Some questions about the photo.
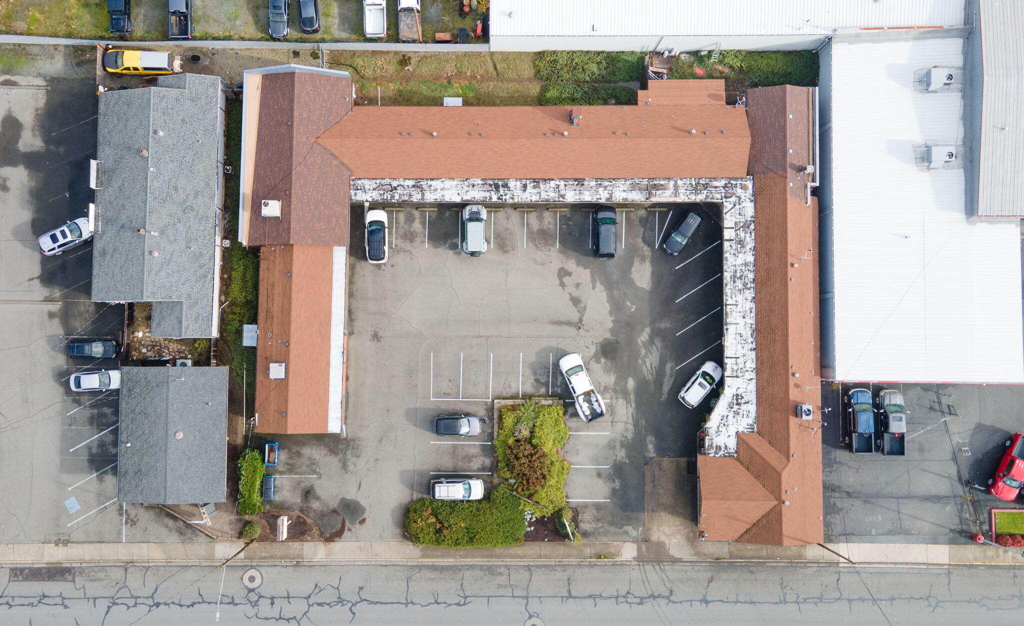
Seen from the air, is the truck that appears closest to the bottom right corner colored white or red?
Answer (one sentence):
The truck that appears closest to the bottom right corner looks red in the image.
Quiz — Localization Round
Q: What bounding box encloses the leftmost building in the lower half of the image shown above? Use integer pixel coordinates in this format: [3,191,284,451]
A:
[116,366,230,504]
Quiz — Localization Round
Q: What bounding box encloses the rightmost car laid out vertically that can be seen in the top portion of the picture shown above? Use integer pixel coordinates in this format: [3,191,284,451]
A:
[592,205,619,262]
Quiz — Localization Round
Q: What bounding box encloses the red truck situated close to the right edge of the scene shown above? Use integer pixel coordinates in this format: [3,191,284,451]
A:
[985,428,1024,500]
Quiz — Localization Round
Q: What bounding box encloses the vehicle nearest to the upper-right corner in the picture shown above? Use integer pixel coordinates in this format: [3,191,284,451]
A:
[661,205,706,260]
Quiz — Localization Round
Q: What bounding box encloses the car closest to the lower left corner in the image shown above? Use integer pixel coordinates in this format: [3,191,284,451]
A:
[69,367,120,394]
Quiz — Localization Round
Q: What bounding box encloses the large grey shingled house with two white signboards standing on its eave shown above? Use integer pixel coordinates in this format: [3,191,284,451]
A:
[88,72,228,339]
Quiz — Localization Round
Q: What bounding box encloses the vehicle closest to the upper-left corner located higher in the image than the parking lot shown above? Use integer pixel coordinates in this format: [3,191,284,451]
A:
[104,0,136,35]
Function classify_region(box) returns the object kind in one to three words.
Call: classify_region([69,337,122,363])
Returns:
car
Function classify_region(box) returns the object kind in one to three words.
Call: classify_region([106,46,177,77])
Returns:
truck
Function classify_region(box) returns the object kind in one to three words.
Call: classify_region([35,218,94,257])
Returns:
car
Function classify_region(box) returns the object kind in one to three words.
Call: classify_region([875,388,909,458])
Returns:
truck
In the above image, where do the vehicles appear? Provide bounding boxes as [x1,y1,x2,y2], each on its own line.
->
[679,359,722,412]
[559,352,607,427]
[875,388,909,458]
[363,0,388,40]
[106,46,177,77]
[362,210,390,265]
[298,0,325,37]
[462,206,488,258]
[843,387,876,456]
[264,0,292,41]
[431,413,483,440]
[69,367,120,394]
[69,337,122,363]
[429,476,484,503]
[661,205,706,260]
[104,0,136,35]
[166,0,195,40]
[398,0,422,42]
[985,428,1024,500]
[592,205,619,262]
[35,218,94,257]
